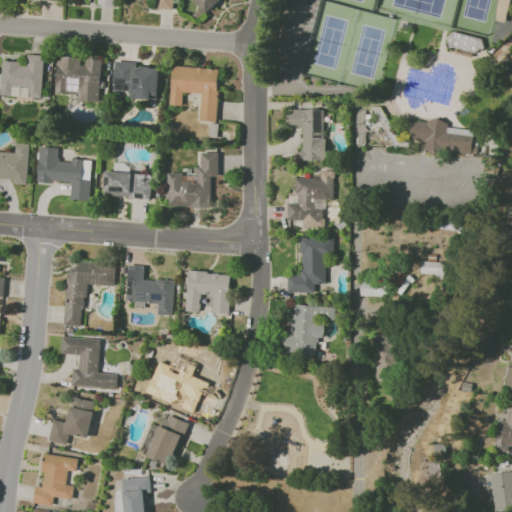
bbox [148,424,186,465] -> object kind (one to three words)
house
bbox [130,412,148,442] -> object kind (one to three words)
swimming pool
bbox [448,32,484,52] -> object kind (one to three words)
building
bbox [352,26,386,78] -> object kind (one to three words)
tennis court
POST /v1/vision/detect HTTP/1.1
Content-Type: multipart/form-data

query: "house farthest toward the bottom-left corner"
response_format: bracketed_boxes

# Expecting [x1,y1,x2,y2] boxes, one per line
[32,454,80,506]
